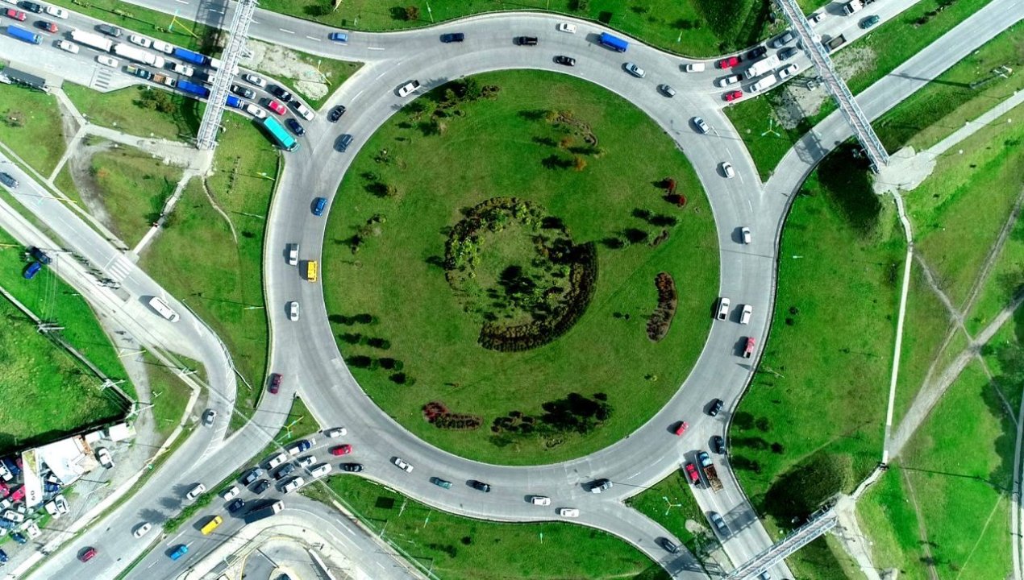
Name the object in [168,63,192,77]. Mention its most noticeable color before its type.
white vehicle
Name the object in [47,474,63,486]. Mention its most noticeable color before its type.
white vehicle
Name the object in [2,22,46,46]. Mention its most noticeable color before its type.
blue truck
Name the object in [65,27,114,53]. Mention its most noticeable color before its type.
white bus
